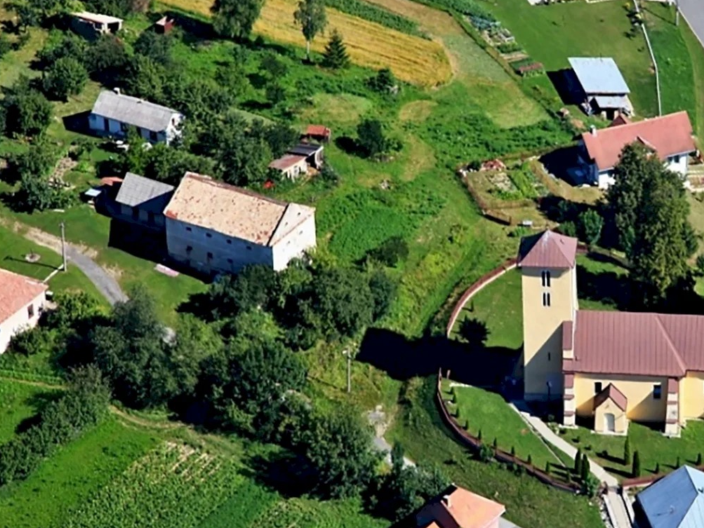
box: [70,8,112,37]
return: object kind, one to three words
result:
shed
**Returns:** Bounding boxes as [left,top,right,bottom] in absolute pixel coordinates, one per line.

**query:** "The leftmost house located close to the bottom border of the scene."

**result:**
[408,487,505,528]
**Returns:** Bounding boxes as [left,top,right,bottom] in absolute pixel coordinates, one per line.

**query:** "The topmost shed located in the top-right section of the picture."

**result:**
[573,52,629,120]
